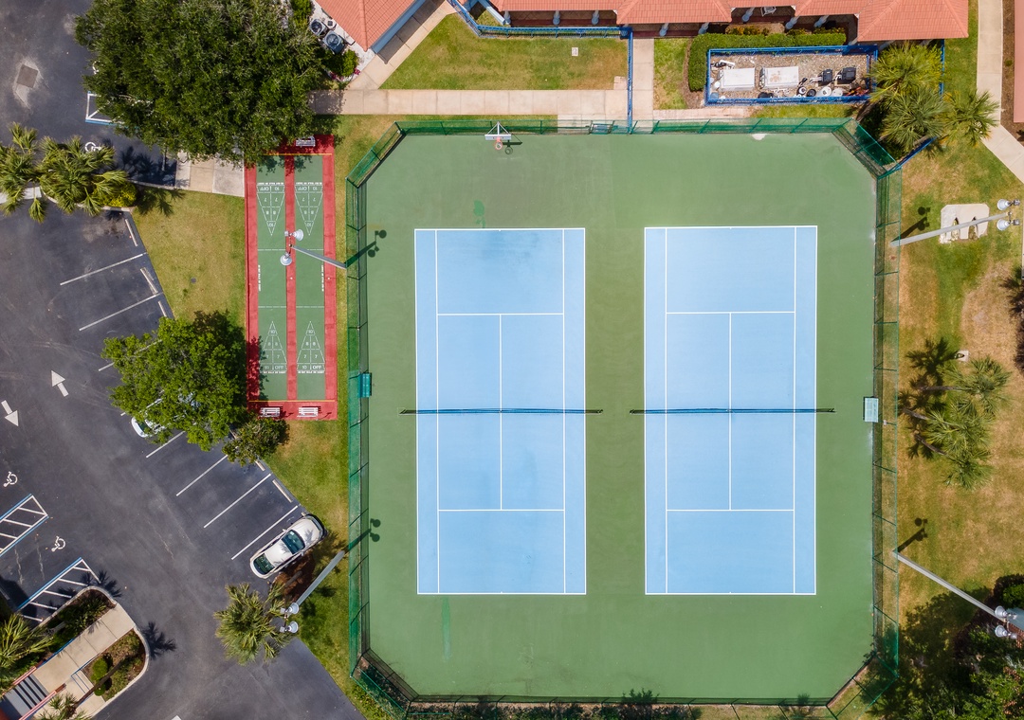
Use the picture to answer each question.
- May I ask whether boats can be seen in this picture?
No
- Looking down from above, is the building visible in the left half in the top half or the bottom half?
top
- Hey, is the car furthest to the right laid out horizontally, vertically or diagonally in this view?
diagonally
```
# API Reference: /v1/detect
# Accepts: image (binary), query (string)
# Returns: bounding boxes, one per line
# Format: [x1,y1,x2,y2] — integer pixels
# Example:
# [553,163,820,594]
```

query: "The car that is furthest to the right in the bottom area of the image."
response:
[254,517,326,579]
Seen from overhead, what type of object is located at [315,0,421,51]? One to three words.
building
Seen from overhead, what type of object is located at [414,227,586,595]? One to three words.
tennis court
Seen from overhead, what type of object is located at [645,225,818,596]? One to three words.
tennis court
